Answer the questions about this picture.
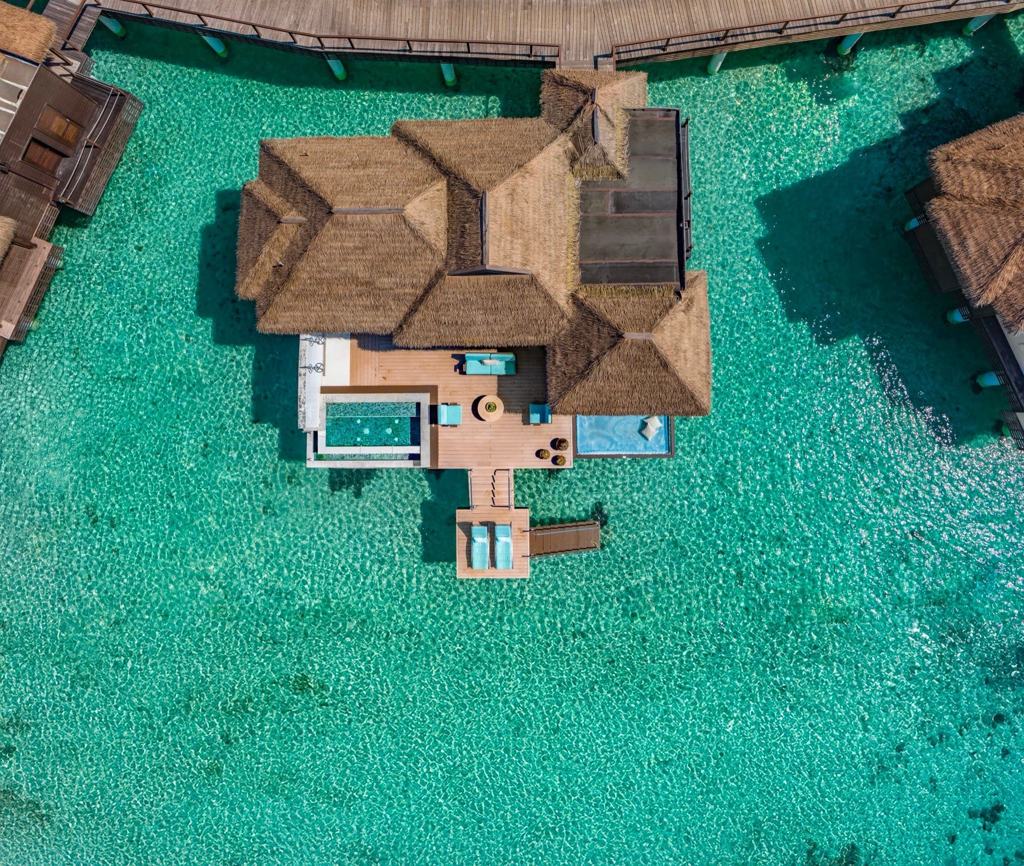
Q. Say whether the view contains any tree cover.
No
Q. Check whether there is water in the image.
Yes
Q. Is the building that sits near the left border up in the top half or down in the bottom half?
top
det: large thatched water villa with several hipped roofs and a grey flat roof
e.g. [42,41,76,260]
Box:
[229,64,718,420]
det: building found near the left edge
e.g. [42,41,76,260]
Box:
[0,0,145,334]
